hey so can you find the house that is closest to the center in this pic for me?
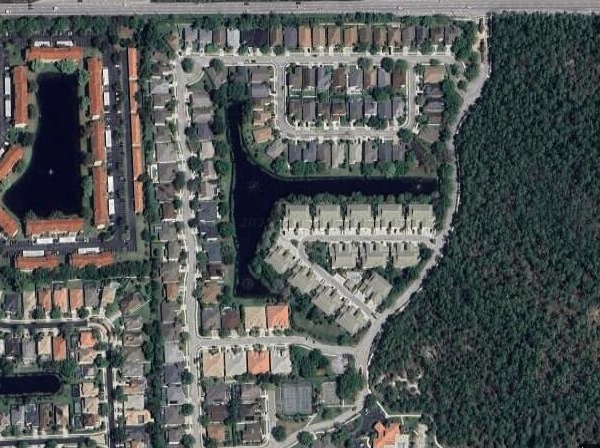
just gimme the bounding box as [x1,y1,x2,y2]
[282,204,313,230]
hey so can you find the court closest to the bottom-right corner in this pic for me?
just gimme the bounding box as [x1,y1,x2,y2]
[322,380,339,405]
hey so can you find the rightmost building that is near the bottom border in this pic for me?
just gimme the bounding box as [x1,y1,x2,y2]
[373,422,402,448]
